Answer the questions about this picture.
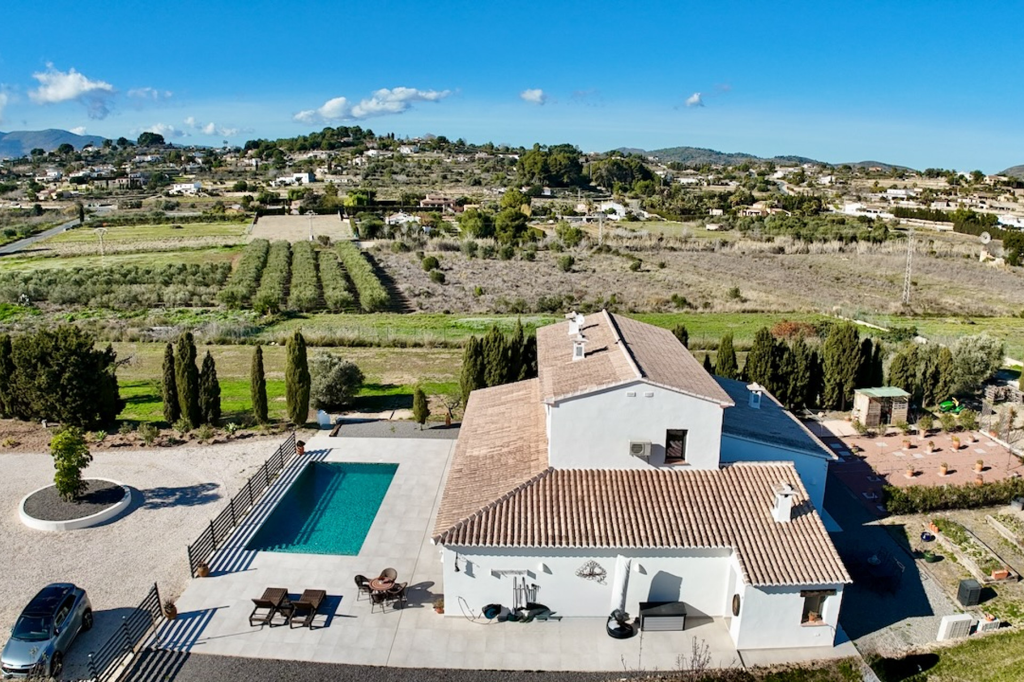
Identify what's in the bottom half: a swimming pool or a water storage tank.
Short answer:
swimming pool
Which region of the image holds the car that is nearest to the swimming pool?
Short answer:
bottom left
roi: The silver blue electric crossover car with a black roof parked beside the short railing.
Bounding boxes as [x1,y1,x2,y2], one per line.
[0,581,94,678]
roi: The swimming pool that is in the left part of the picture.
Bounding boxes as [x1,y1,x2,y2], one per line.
[248,461,396,553]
